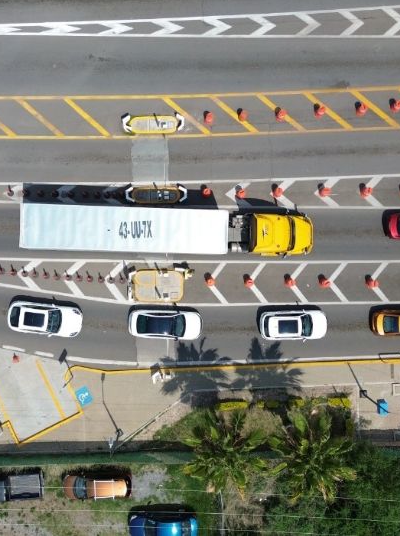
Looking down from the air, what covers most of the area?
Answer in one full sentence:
What you mostly see from above here is paved ground.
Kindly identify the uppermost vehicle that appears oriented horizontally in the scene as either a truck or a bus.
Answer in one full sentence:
The uppermost vehicle that appears oriented horizontally in the image is a truck.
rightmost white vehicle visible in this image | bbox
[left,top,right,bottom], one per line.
[258,308,325,345]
